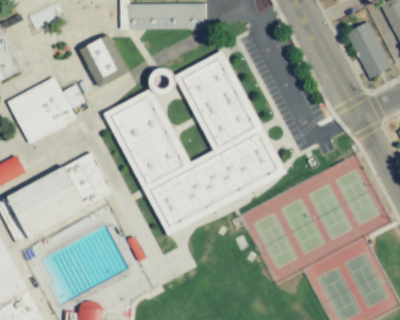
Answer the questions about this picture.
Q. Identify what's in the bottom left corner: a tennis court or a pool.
pool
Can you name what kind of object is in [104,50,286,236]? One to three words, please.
building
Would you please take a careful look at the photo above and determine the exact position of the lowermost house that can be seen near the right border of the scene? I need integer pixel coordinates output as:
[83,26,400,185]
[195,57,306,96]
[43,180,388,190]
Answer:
[350,22,391,79]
